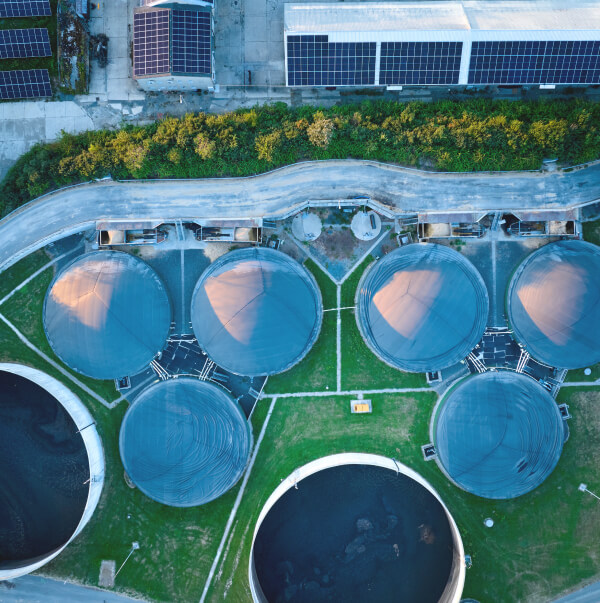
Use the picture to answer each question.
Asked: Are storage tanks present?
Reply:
Yes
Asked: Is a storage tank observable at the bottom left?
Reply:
Yes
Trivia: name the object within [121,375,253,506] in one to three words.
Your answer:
storage tank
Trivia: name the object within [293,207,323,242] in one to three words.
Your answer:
storage tank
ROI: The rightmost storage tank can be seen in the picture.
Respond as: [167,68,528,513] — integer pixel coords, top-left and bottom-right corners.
[500,236,600,375]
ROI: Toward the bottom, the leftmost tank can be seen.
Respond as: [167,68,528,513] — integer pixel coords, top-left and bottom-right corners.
[0,365,105,580]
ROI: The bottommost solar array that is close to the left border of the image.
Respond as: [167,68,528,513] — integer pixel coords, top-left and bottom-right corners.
[0,69,52,99]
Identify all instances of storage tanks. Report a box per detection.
[121,375,253,506]
[293,207,323,242]
[191,244,324,377]
[428,367,565,501]
[355,241,490,374]
[500,236,600,375]
[0,365,105,580]
[41,248,177,380]
[250,452,466,603]
[350,206,382,241]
